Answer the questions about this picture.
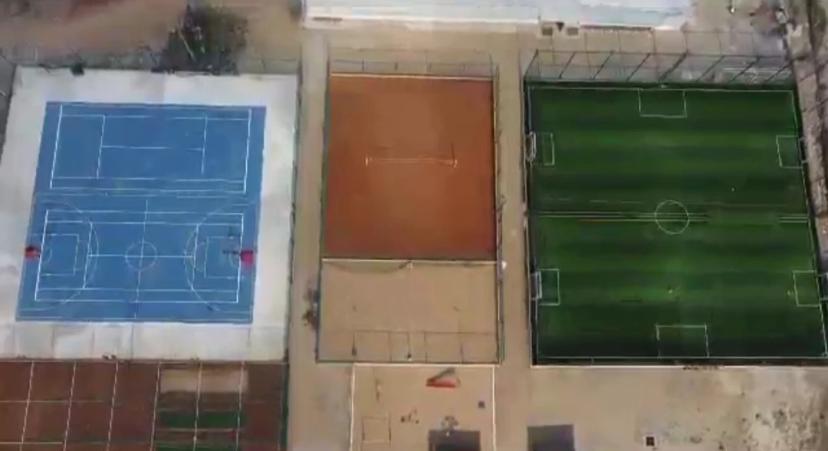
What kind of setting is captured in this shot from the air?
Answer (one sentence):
It's a sports ground.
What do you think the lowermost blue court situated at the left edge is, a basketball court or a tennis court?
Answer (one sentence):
The lowermost blue court situated at the left edge is a basketball court.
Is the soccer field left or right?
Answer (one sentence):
You can find the soccer field on the right side of the picture.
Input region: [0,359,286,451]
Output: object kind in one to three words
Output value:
sports court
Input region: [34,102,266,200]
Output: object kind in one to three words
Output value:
tennis court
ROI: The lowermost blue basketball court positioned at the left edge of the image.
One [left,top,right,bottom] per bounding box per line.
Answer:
[18,196,260,324]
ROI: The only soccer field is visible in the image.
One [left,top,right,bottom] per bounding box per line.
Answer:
[522,78,828,369]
